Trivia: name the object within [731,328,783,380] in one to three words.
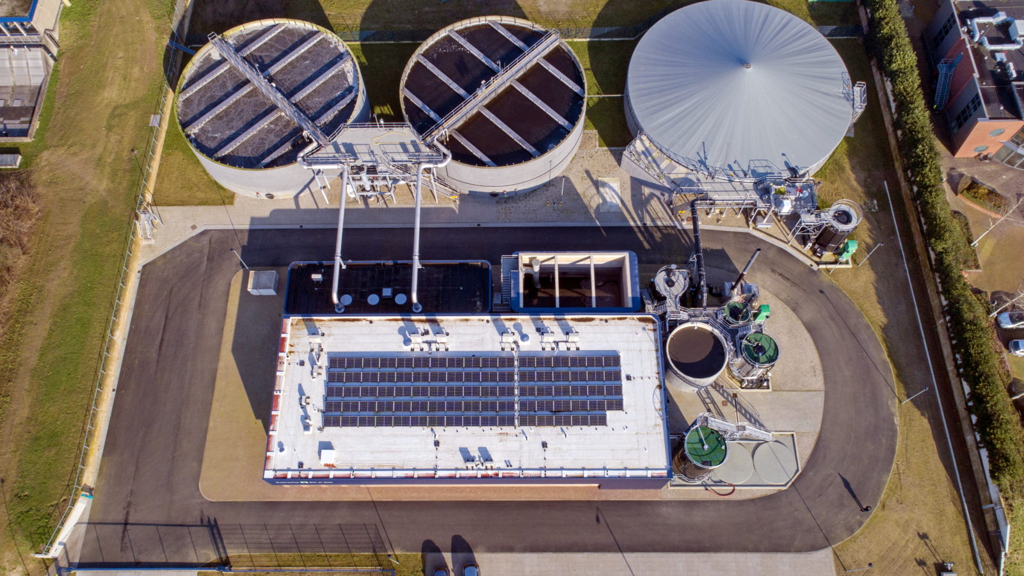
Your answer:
storage tank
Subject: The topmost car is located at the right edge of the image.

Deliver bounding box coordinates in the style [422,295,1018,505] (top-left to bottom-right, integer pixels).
[997,310,1024,330]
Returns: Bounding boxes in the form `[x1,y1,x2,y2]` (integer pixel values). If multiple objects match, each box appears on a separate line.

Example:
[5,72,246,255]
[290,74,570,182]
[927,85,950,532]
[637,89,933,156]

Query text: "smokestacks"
[730,245,770,310]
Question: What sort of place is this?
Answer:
industrial area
